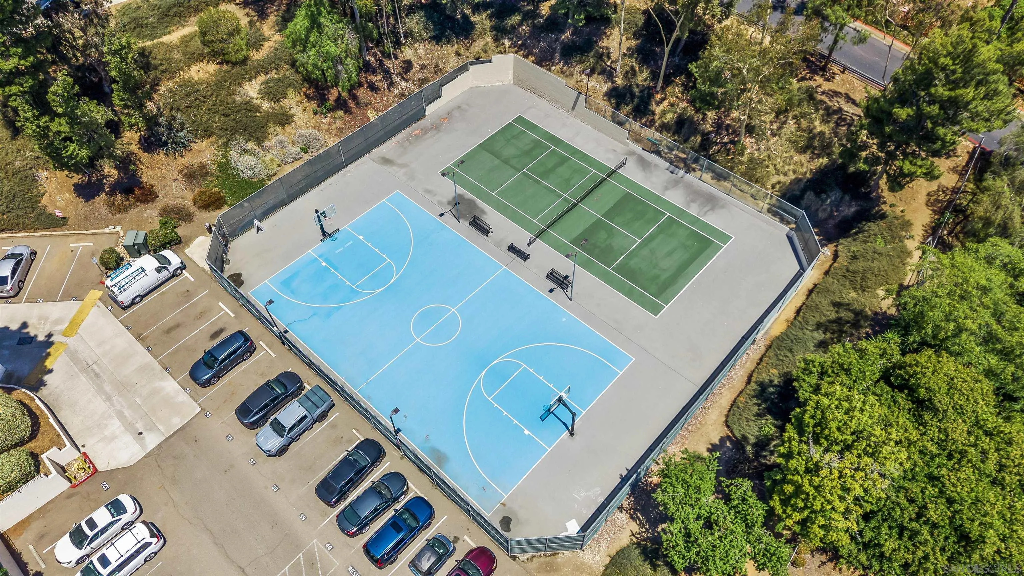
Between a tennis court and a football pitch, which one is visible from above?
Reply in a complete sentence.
Looking from above, you can make out a tennis court.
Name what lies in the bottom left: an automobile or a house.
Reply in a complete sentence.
What appears in the bottom left is an automobile.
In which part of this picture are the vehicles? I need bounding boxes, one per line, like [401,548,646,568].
[52,496,138,571]
[103,254,185,312]
[445,546,497,576]
[189,333,253,388]
[363,499,434,570]
[252,390,331,461]
[234,373,304,431]
[313,440,385,509]
[335,472,409,542]
[0,248,34,298]
[80,527,160,576]
[408,532,455,576]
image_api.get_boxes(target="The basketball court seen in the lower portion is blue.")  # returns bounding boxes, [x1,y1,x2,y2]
[249,190,636,515]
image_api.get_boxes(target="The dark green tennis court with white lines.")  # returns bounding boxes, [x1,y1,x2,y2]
[438,114,734,318]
